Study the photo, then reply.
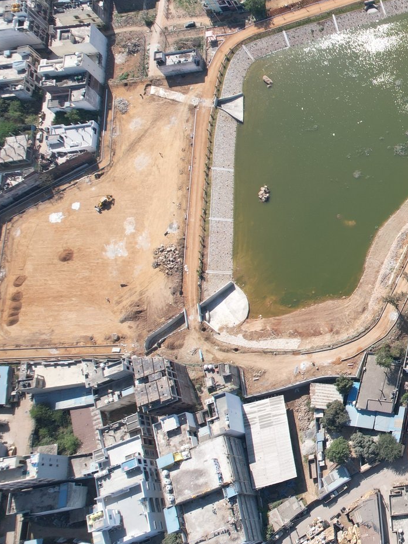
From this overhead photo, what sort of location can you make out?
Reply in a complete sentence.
The picture captures a residential area.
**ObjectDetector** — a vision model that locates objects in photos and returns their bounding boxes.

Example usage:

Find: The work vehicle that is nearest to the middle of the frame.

[95,193,117,214]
